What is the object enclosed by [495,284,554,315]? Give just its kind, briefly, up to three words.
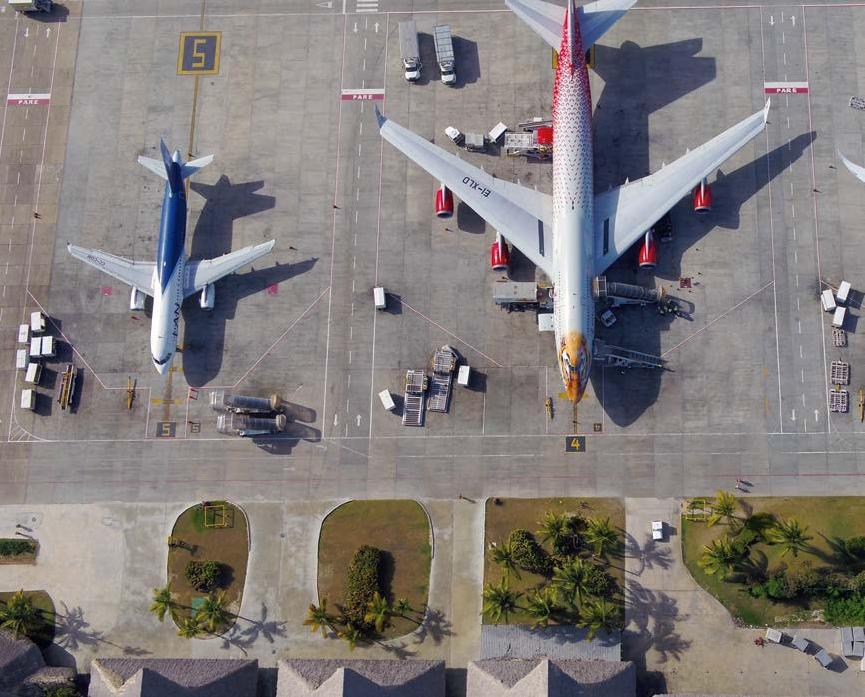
truck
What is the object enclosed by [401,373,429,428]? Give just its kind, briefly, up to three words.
work vehicle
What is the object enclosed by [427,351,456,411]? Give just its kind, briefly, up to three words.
work vehicle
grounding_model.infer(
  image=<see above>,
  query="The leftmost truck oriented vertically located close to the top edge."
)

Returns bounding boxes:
[397,28,419,85]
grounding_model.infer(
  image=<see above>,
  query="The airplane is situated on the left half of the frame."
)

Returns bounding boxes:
[66,137,274,373]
